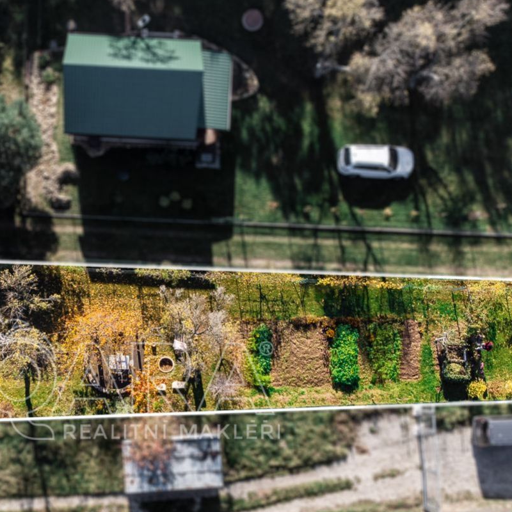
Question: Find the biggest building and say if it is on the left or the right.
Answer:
left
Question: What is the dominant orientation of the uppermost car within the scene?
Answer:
from left to right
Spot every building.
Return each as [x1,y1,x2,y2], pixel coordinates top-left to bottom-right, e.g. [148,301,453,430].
[122,433,224,495]
[63,32,235,154]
